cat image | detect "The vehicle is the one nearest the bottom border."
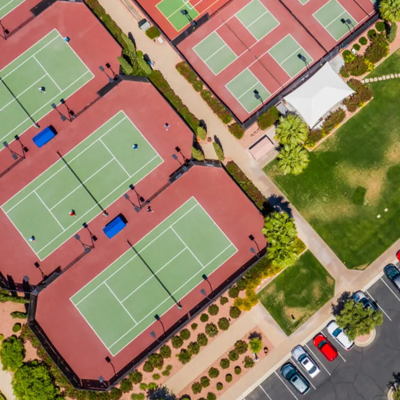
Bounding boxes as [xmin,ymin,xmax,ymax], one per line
[281,361,310,396]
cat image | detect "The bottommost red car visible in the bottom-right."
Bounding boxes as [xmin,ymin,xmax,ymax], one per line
[313,333,337,363]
